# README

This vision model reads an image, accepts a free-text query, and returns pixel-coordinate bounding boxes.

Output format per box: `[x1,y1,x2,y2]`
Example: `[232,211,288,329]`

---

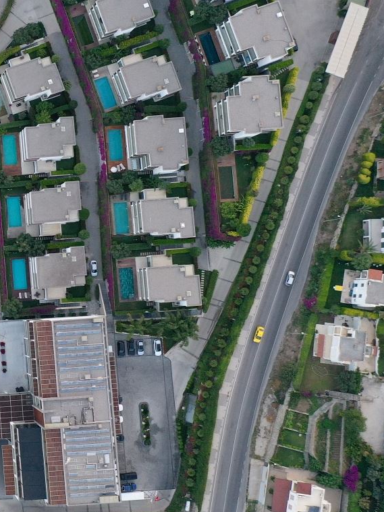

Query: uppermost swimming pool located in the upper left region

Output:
[71,12,96,47]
